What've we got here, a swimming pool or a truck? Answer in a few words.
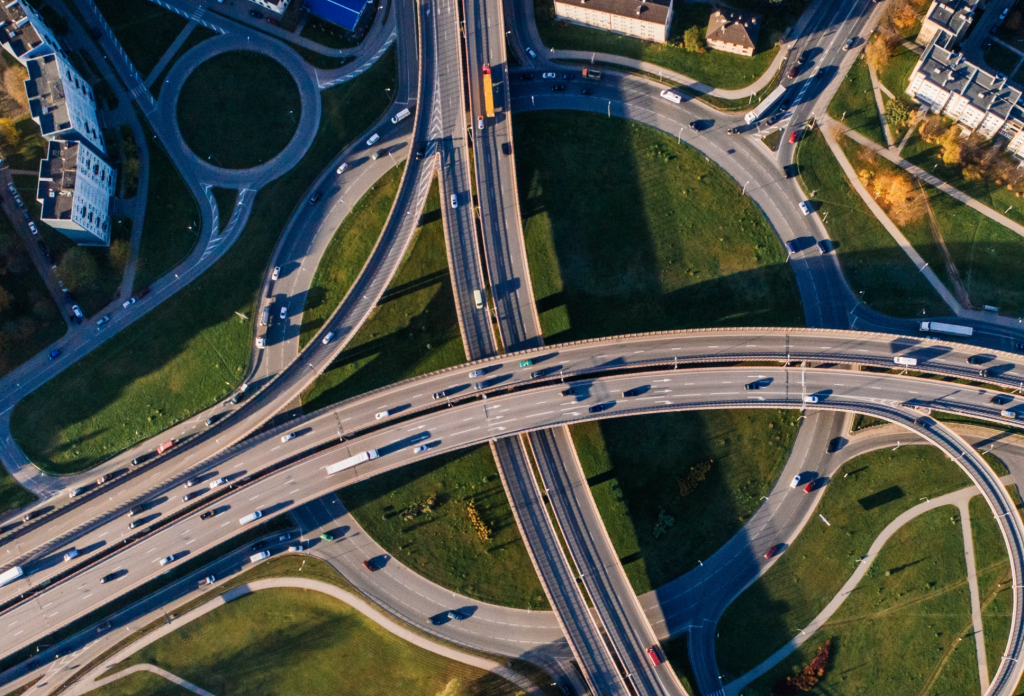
truck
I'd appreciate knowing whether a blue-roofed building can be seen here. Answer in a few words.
Yes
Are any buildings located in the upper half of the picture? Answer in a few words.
Yes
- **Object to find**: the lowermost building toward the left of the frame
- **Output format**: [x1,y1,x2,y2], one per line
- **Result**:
[36,140,116,245]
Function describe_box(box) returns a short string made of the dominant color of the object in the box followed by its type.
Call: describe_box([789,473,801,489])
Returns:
white vehicle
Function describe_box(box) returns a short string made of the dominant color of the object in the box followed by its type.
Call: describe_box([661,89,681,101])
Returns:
white vehicle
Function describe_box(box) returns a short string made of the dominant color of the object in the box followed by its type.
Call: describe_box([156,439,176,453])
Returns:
red vehicle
